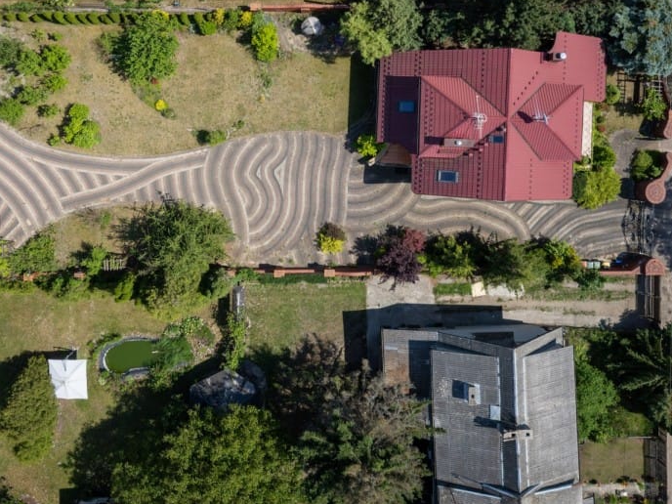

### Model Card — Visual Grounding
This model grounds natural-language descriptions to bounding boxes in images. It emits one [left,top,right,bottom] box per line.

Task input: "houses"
[374,33,608,202]
[381,317,578,504]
